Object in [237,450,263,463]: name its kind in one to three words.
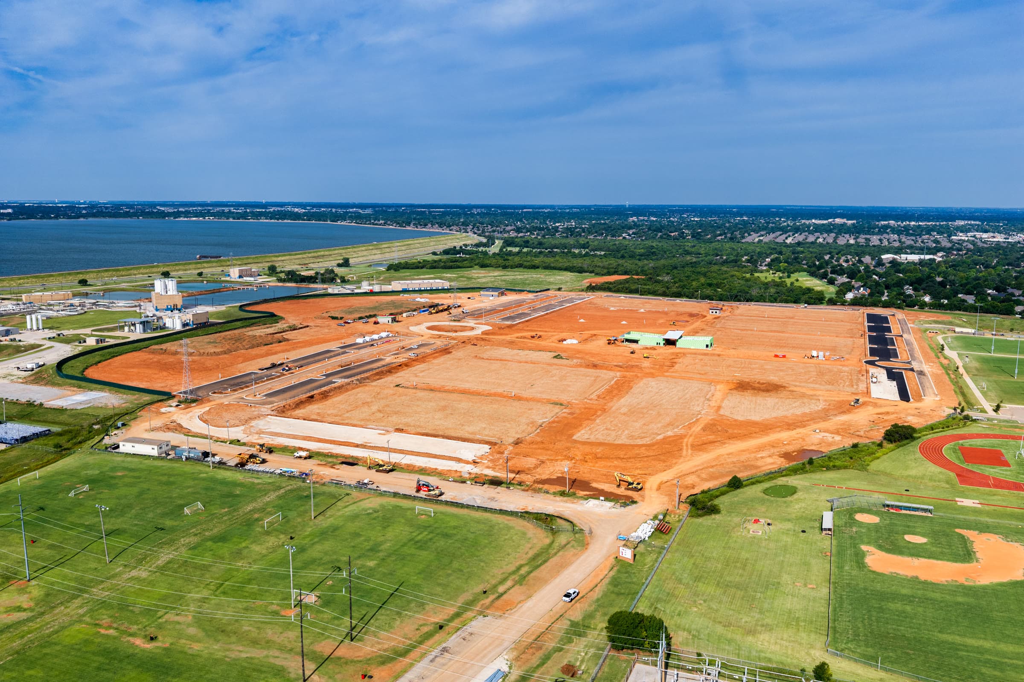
vehicle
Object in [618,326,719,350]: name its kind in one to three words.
building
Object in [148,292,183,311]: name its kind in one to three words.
house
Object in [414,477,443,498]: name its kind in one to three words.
work vehicle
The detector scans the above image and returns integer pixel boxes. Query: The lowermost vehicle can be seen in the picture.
[561,590,579,603]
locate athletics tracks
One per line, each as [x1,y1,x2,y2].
[914,432,1024,495]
